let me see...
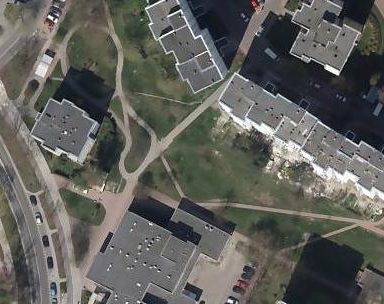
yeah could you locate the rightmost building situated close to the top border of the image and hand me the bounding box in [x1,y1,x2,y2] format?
[289,0,361,86]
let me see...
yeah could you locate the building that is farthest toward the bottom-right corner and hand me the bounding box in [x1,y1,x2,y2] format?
[362,267,384,297]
